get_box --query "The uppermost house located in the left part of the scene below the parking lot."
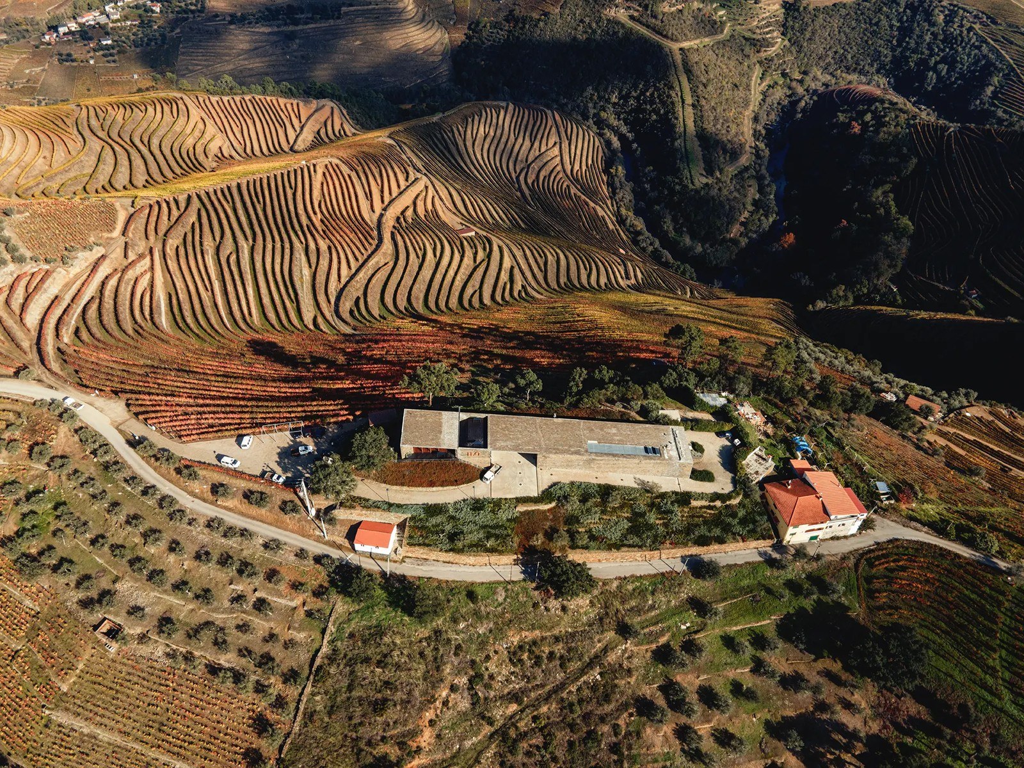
[353,517,394,555]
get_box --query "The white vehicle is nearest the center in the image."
[482,463,504,483]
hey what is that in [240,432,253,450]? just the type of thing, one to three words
vehicle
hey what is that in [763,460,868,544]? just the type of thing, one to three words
house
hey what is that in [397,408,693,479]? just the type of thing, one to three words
building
